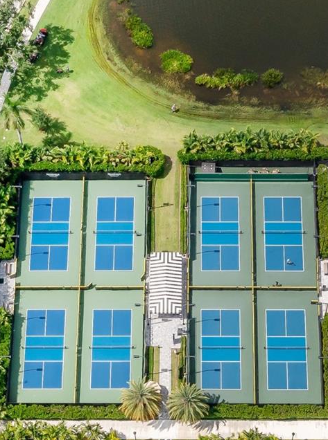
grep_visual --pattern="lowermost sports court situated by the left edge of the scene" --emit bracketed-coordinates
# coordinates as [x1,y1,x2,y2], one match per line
[9,289,79,403]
